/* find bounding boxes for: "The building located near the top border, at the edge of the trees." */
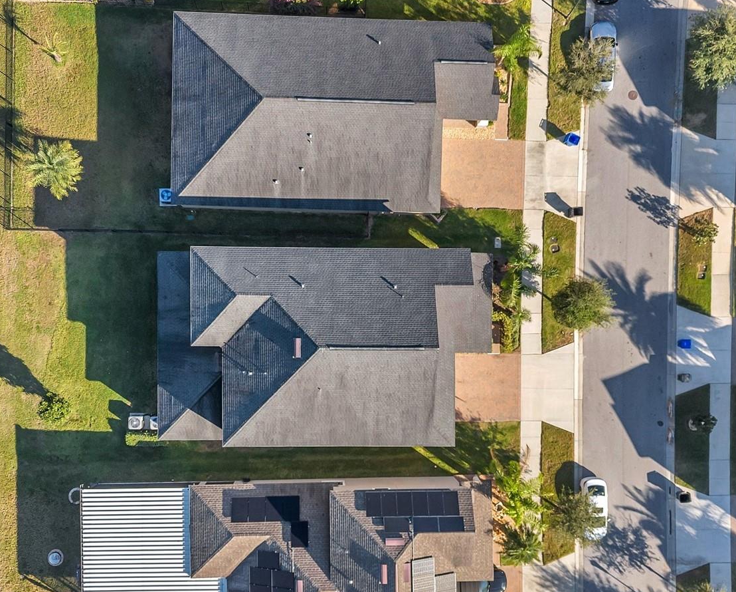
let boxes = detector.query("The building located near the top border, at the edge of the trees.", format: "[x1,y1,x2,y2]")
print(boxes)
[170,10,498,215]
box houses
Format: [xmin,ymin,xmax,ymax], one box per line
[170,10,498,215]
[157,245,494,448]
[188,475,493,592]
